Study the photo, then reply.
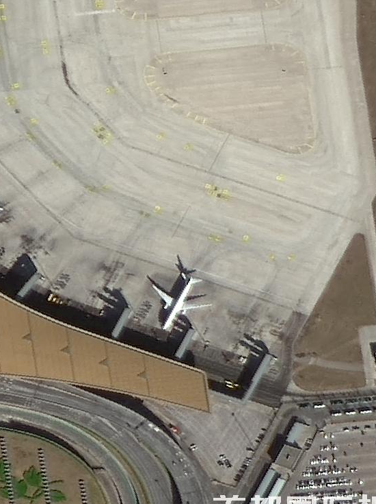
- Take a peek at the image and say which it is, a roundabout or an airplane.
airplane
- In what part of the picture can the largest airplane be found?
center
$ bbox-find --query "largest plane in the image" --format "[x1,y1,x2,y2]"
[154,268,215,328]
